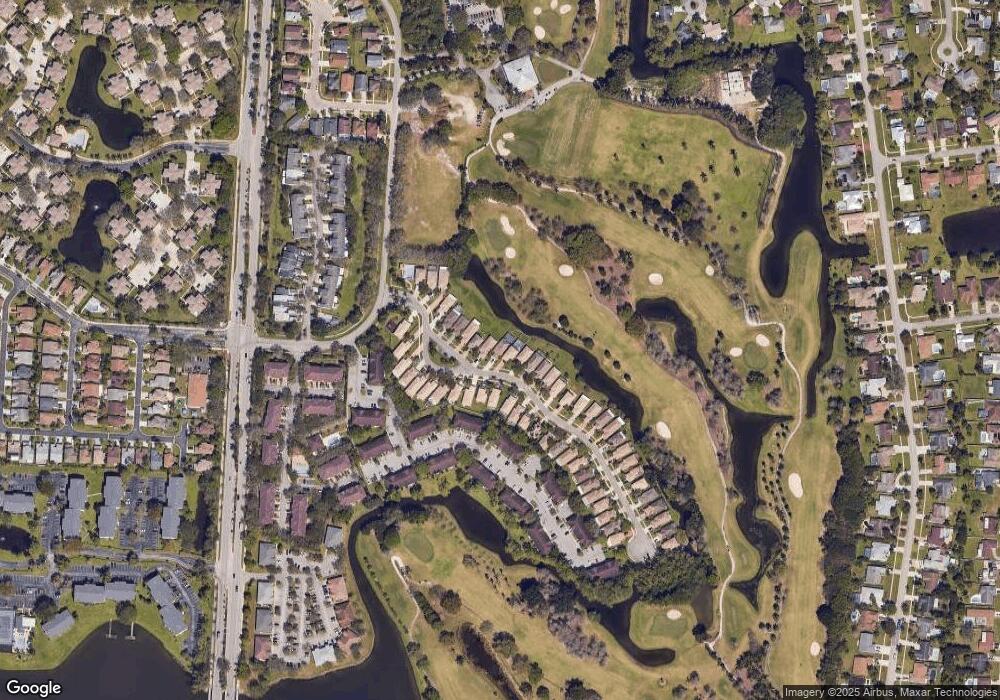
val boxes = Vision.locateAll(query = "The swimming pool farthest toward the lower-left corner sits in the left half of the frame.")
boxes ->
[15,616,35,652]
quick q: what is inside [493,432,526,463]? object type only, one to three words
building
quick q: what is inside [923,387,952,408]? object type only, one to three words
house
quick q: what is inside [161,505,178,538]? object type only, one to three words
building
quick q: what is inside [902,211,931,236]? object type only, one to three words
house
